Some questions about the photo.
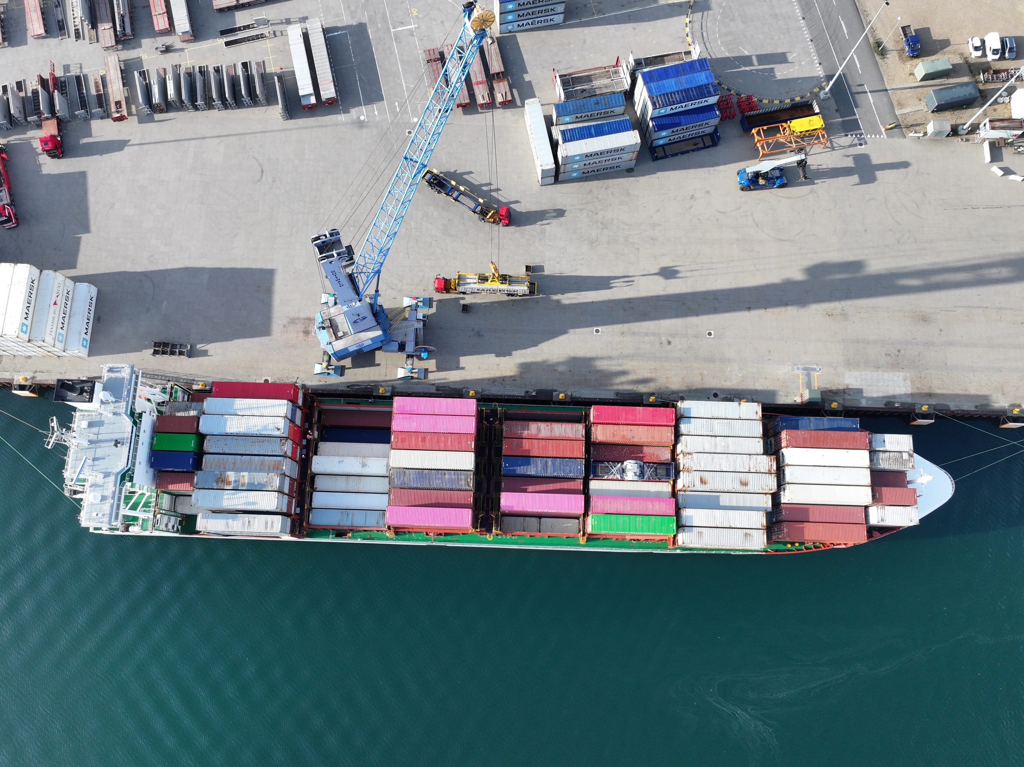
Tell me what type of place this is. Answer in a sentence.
The picture captures a port.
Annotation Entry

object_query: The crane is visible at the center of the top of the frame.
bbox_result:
[312,2,505,381]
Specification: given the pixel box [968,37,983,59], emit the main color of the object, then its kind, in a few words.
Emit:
white car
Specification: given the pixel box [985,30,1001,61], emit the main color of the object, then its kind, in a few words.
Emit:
white vehicle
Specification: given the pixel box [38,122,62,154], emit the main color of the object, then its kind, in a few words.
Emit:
red truck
